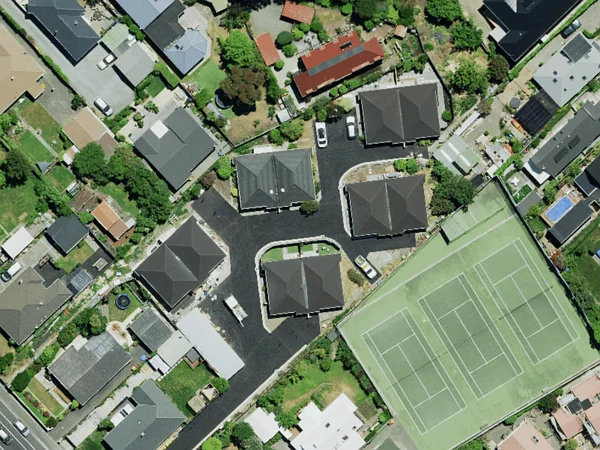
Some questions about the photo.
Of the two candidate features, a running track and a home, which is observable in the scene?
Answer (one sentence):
It is a home that can be seen here.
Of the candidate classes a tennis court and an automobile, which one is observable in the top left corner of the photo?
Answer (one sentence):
Looking in the top left corner of the photo, you will find an automobile.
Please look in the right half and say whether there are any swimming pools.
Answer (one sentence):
Yes, I can see a swimming pool in the right half.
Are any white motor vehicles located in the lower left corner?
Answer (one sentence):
Yes, I can see a white motor vehicle in the lower left corner.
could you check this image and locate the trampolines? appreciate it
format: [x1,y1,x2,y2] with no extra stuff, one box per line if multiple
[212,93,231,110]
[115,293,131,309]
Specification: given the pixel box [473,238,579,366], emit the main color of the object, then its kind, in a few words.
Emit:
green tennis court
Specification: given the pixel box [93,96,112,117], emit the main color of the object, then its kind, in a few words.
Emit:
white car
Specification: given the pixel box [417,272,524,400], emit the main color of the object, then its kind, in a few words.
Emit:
green tennis court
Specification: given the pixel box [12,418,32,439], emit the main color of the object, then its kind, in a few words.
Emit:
white car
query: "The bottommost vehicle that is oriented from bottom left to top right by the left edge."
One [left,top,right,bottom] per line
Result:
[0,260,23,282]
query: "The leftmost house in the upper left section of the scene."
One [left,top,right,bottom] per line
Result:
[0,23,46,116]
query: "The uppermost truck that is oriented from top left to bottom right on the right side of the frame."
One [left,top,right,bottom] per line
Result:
[354,254,378,278]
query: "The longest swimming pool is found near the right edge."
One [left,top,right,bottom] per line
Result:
[544,195,575,223]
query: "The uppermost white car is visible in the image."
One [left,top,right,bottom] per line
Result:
[96,52,117,70]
